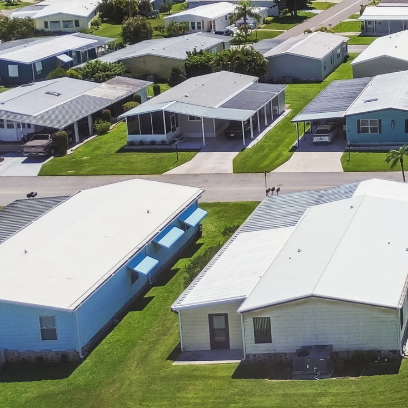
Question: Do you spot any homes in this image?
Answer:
Yes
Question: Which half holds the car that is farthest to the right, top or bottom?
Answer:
top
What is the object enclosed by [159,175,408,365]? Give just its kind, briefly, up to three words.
house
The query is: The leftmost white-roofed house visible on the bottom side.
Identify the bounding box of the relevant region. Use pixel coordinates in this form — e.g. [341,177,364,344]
[0,180,209,358]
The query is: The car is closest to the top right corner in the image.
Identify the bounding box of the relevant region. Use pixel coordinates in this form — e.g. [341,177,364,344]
[314,120,340,140]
